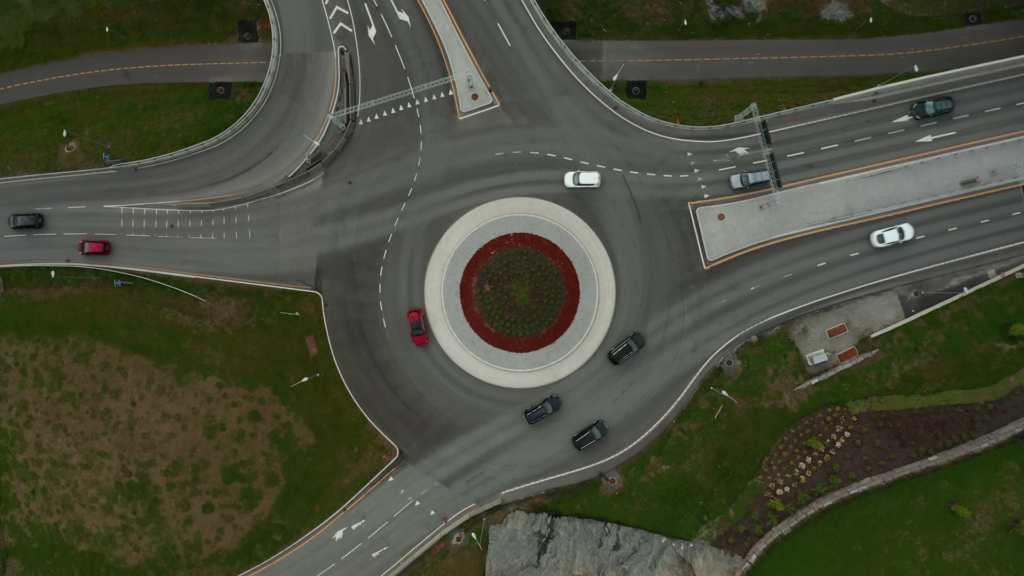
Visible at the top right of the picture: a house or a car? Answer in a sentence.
Visible at the top right of the picture is a car.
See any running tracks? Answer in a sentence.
No, there's no running track here.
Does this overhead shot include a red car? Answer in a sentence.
Yes, you can see a red car in this photo.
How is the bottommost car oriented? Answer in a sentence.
In this picture, the bottommost car is oriented diagonally.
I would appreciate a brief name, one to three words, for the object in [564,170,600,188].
car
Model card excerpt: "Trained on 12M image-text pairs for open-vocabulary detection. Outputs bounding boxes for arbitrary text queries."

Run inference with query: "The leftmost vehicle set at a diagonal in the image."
[524,395,561,425]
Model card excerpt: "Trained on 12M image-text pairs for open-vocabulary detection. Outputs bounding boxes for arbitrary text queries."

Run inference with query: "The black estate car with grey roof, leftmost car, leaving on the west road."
[8,212,42,229]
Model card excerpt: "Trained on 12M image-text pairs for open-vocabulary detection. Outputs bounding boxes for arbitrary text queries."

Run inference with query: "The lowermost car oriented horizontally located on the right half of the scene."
[871,225,912,246]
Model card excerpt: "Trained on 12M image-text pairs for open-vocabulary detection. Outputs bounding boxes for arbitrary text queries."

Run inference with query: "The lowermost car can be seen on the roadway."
[572,420,608,451]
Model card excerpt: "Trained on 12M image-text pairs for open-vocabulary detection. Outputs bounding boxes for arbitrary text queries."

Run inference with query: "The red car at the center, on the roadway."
[408,308,428,346]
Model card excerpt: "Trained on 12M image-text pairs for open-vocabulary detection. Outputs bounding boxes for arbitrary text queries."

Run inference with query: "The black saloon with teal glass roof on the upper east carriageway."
[910,98,952,120]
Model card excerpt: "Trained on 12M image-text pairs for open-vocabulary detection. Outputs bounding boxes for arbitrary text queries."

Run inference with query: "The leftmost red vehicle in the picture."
[78,240,111,257]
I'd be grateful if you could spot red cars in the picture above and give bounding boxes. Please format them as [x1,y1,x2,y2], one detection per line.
[408,308,428,346]
[78,240,111,257]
